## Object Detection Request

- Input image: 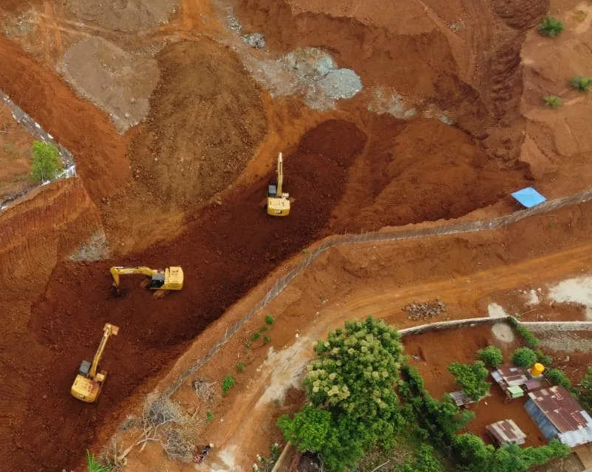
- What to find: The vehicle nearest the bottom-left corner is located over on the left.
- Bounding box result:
[73,331,115,406]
